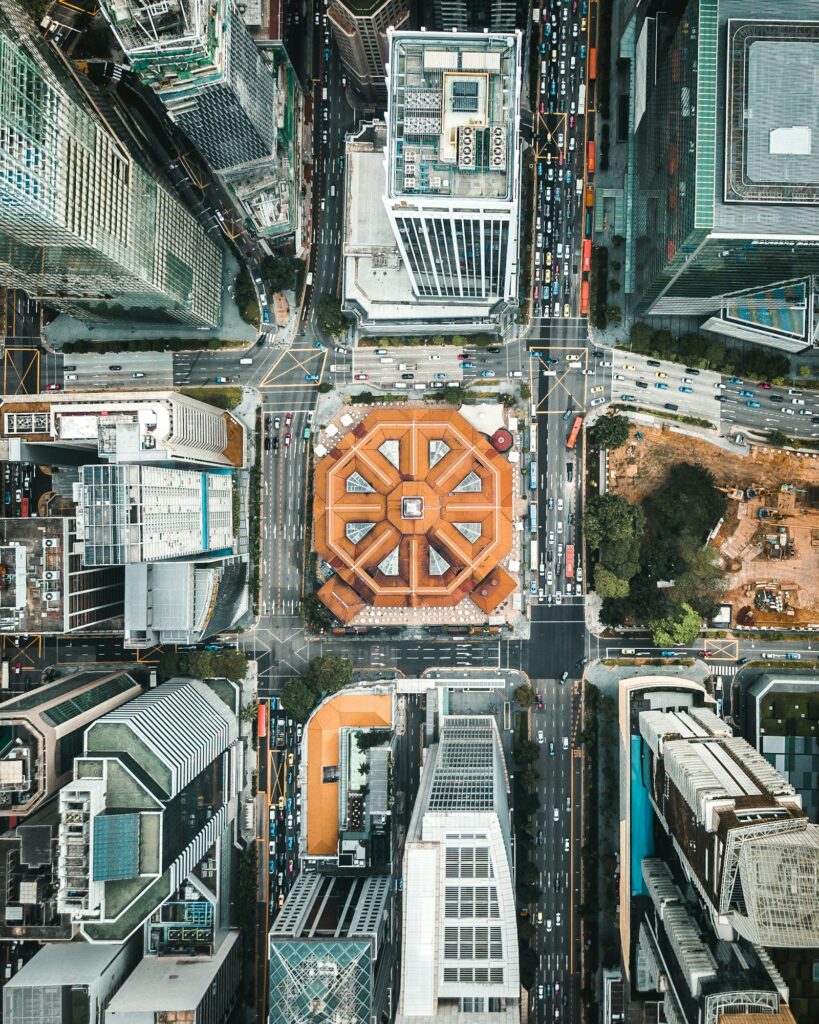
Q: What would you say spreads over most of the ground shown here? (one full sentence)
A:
The largest share of the image is taken up by buildings.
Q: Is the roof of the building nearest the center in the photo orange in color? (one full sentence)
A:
Yes, the roof of the building nearest the center appears orange.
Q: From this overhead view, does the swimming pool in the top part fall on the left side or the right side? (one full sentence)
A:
The swimming pool in the top part is on the right side of the image.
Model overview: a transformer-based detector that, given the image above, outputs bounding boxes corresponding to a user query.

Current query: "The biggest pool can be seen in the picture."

[728,284,804,336]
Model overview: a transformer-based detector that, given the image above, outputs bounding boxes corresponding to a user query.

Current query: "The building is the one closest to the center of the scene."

[314,409,511,606]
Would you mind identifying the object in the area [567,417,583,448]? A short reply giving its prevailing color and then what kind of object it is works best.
red vehicle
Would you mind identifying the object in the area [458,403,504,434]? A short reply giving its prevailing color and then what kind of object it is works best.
white tent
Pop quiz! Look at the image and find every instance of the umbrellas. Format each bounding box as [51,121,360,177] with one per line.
[508,419,518,429]
[340,414,354,428]
[513,593,521,608]
[508,451,519,462]
[314,444,327,457]
[324,423,339,437]
[507,560,519,572]
[489,616,504,625]
[513,520,524,531]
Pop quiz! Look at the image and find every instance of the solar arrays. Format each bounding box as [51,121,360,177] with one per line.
[104,811,139,880]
